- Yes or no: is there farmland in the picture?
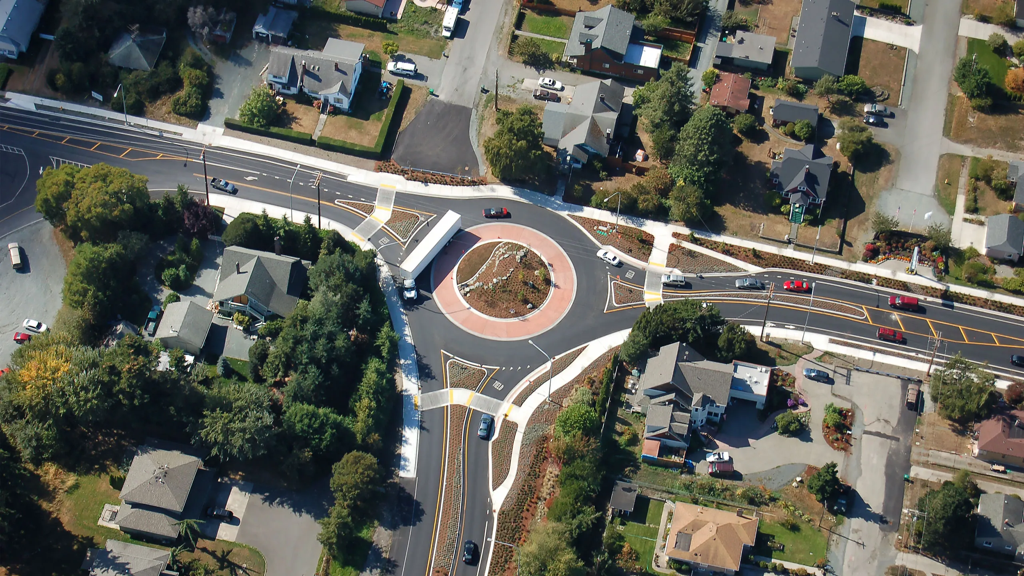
No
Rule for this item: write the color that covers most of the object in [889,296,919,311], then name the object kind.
red vehicle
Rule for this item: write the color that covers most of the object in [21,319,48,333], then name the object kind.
white car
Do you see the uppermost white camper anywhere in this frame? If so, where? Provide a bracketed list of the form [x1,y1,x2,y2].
[444,3,458,40]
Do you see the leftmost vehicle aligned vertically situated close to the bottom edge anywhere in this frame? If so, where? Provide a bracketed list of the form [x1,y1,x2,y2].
[464,541,476,565]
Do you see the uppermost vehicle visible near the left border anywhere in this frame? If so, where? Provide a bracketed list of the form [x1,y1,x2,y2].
[8,243,21,269]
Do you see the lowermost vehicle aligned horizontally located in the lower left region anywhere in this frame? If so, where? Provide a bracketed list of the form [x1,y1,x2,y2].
[205,506,234,521]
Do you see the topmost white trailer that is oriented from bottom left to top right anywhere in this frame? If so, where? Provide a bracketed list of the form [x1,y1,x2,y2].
[400,209,461,276]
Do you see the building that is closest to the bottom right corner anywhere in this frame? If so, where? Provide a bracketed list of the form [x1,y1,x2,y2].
[975,496,1024,557]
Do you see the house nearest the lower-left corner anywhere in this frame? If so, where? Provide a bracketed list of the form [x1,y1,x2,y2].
[81,540,171,576]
